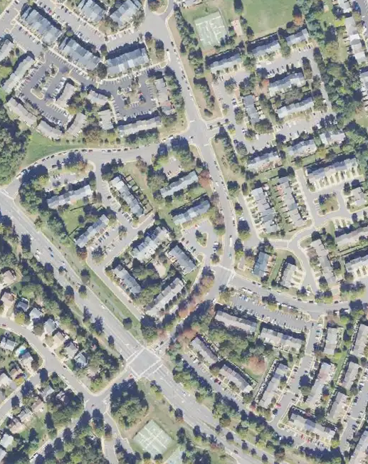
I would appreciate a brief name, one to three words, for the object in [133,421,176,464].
sports court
